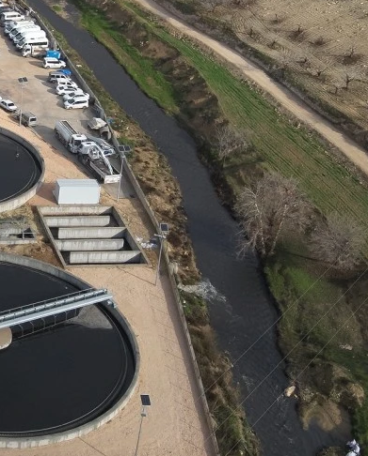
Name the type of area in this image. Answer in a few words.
industrial area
